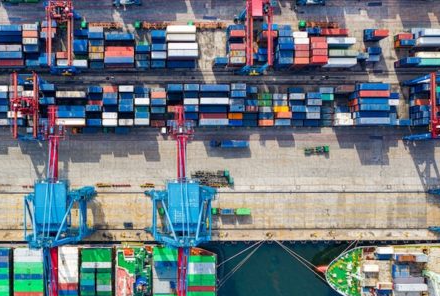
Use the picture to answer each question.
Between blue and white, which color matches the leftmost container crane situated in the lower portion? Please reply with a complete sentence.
From above, the leftmost container crane situated in the lower portion appears blue.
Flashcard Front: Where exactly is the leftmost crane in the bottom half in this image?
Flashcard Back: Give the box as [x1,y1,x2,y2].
[20,103,100,296]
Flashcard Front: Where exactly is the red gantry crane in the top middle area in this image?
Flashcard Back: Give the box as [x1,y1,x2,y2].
[235,0,278,79]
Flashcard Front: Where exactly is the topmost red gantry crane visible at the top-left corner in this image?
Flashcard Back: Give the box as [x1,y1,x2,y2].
[44,0,80,79]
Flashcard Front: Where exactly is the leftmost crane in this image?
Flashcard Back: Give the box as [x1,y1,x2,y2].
[10,70,49,145]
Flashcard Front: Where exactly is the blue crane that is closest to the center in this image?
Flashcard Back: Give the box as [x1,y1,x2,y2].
[140,103,221,296]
